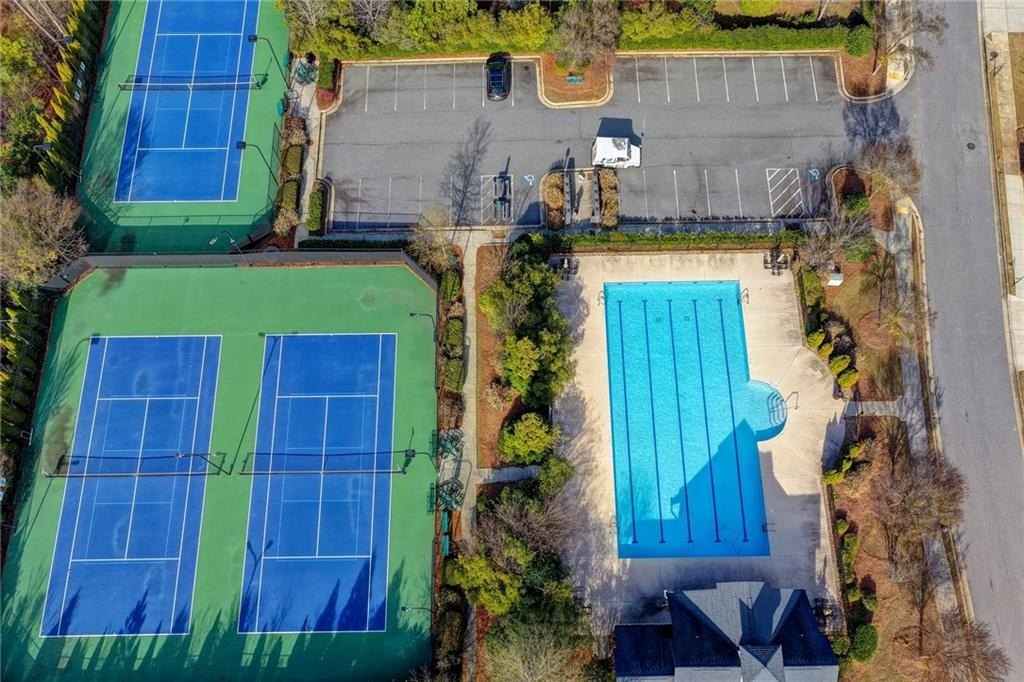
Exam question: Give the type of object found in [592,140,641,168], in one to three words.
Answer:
car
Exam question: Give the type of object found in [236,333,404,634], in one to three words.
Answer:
tennis court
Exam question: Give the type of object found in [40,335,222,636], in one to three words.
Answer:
tennis court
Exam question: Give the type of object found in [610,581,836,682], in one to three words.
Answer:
building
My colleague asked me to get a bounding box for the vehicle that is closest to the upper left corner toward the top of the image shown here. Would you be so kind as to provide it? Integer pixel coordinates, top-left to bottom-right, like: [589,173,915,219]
[486,53,511,99]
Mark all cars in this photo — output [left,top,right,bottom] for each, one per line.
[592,140,641,168]
[486,53,511,99]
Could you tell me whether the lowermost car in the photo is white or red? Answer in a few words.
white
